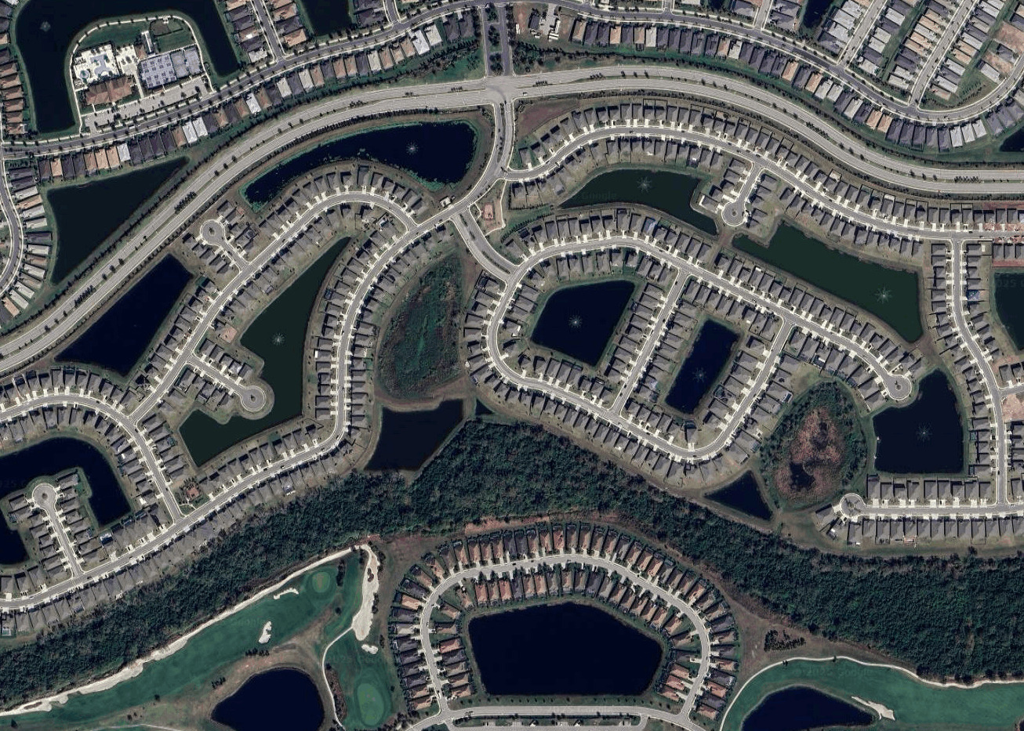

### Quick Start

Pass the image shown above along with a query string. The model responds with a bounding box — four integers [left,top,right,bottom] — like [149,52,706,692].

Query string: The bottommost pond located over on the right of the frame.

[742,686,873,731]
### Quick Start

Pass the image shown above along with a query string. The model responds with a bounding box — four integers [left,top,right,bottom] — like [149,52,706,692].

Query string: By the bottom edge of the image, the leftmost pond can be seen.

[211,669,324,731]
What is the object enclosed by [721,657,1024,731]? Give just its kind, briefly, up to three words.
golf course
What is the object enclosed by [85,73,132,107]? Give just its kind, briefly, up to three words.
building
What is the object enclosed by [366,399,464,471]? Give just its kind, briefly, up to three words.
pond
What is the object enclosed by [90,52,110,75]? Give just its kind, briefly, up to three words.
swimming pool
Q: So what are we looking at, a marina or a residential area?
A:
residential area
